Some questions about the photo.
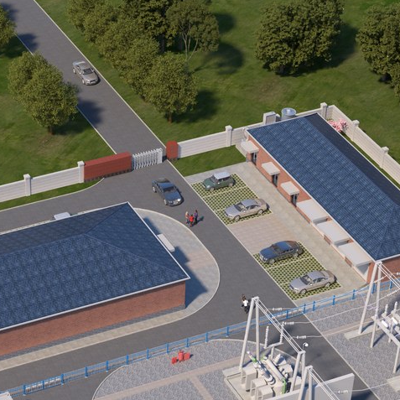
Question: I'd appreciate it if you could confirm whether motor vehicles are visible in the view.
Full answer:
Yes, the photo shows a motor vehicle.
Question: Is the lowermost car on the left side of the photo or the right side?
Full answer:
The lowermost car is on the right side of the image.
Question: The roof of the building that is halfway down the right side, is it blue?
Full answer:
Yes, the roof of the building that is halfway down the right side is blue.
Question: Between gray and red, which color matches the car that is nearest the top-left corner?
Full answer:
The color of the car that is nearest the top-left corner is gray.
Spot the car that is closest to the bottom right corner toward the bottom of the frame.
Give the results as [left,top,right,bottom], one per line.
[287,265,337,291]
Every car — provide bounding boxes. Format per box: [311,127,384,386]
[258,236,307,263]
[145,176,182,206]
[202,164,241,190]
[287,265,337,291]
[222,194,270,218]
[72,59,99,84]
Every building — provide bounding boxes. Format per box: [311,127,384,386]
[236,112,400,287]
[0,202,191,359]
